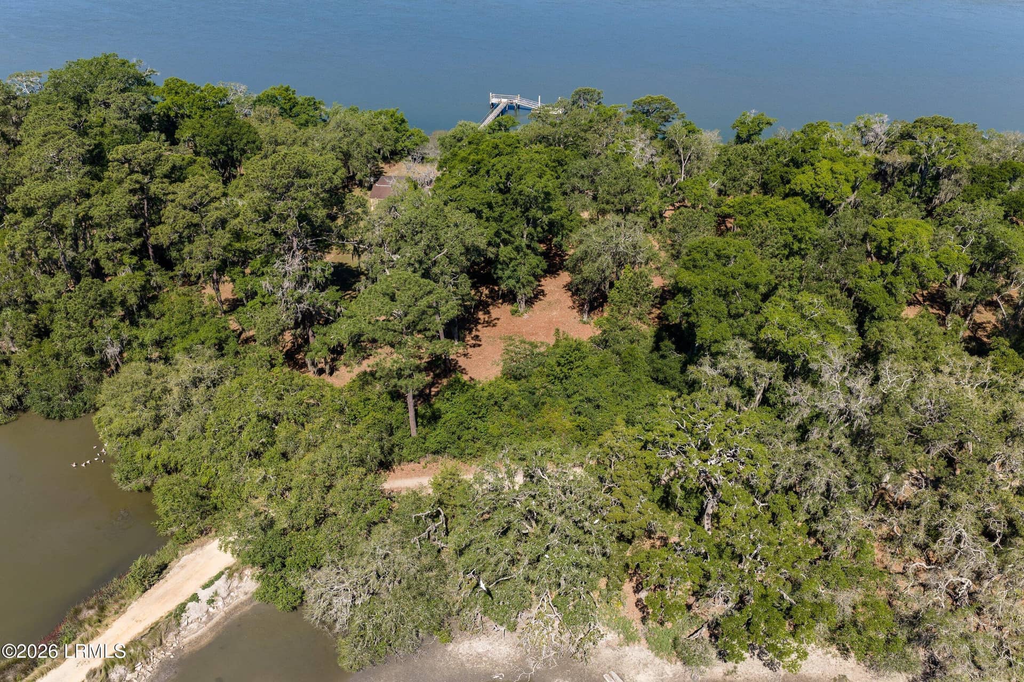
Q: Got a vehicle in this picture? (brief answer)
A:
No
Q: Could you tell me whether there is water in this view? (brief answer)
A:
Yes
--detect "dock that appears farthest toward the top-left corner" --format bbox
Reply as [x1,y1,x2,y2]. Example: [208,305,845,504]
[473,91,520,130]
